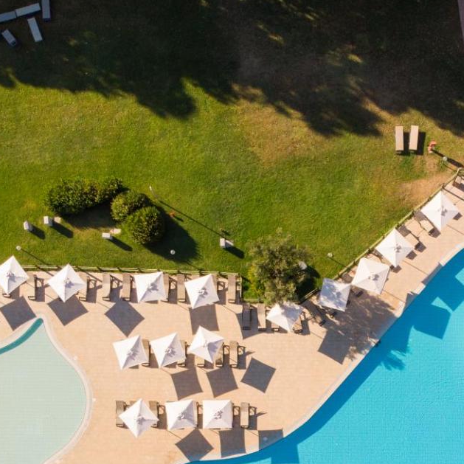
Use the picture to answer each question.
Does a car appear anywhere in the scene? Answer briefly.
No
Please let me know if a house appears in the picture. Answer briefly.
No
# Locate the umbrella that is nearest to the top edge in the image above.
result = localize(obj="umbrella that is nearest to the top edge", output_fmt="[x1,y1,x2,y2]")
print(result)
[421,190,461,229]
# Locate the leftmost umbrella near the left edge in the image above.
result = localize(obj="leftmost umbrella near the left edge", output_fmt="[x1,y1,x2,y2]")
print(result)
[0,254,30,294]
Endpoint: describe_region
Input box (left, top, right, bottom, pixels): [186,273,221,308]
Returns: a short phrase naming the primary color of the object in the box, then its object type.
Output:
white umbrella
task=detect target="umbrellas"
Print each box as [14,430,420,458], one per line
[47,265,86,303]
[151,332,185,366]
[203,399,231,428]
[352,257,388,294]
[267,300,304,333]
[320,278,352,311]
[164,399,195,430]
[186,273,221,308]
[421,190,461,229]
[377,228,415,268]
[0,254,30,294]
[188,327,224,363]
[135,272,166,302]
[119,398,159,437]
[112,334,148,371]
